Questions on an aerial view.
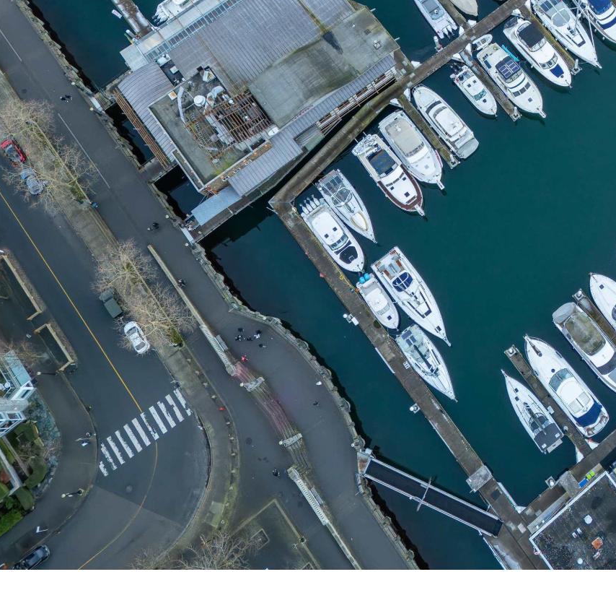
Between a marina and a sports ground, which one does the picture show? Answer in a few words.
marina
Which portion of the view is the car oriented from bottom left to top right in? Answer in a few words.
bottom left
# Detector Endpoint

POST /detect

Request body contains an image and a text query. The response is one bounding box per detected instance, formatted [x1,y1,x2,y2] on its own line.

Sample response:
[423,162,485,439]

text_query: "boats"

[475,36,492,51]
[397,327,458,405]
[413,0,451,38]
[412,86,481,161]
[355,138,426,219]
[355,274,401,334]
[316,168,377,241]
[529,0,601,71]
[498,14,575,88]
[586,273,616,331]
[566,0,616,46]
[472,41,548,122]
[548,302,570,320]
[549,302,616,391]
[155,0,200,23]
[301,200,364,276]
[373,249,451,345]
[377,112,455,190]
[502,367,565,456]
[448,63,501,118]
[520,336,607,439]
